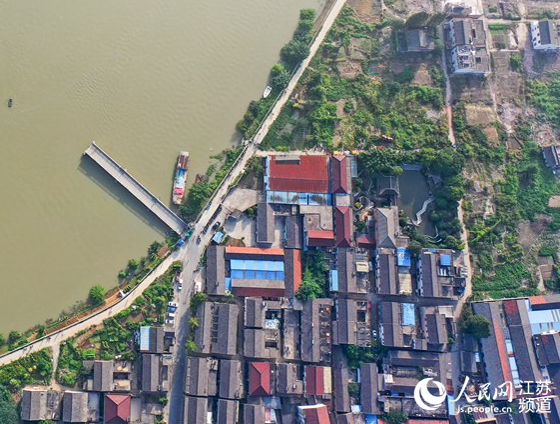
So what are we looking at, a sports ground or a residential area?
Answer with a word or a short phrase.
residential area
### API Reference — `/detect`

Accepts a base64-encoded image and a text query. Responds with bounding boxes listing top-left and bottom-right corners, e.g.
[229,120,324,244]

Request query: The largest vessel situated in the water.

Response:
[173,150,196,204]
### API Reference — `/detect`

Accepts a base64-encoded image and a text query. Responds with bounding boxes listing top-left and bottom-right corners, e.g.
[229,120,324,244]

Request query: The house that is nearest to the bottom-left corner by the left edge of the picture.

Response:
[21,389,42,421]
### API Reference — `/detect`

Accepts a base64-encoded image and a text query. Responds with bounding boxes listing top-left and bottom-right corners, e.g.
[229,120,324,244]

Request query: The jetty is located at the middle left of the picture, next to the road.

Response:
[84,141,188,237]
